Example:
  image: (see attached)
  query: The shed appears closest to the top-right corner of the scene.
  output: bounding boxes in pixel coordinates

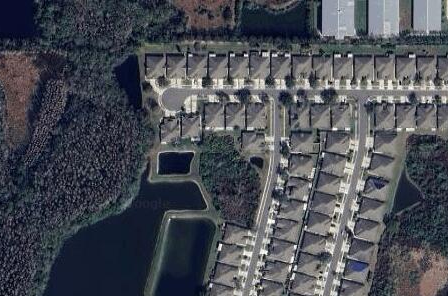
[413,0,441,33]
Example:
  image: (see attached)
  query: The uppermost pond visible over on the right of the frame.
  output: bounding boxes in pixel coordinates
[241,0,308,37]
